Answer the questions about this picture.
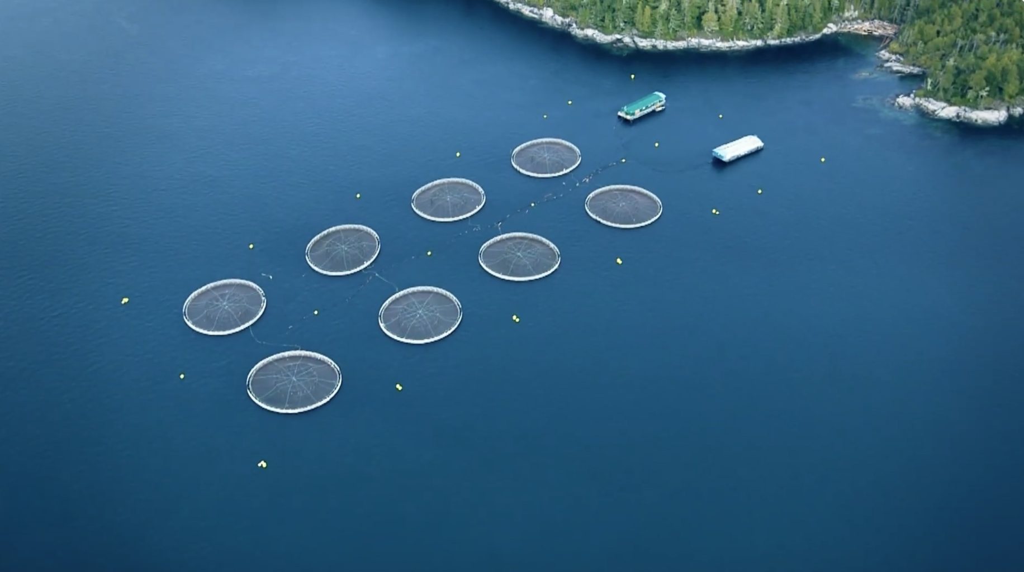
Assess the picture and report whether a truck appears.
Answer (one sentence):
No, there isn't any truck down there.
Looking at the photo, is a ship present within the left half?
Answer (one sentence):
No, the scene shows no ship within the left half.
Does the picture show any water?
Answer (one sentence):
Yes, the picture does contain water.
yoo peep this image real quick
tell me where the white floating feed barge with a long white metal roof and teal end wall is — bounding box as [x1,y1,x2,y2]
[714,133,765,163]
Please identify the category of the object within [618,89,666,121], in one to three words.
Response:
ship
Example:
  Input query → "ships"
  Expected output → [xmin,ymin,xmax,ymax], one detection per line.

[618,89,666,121]
[714,133,765,163]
